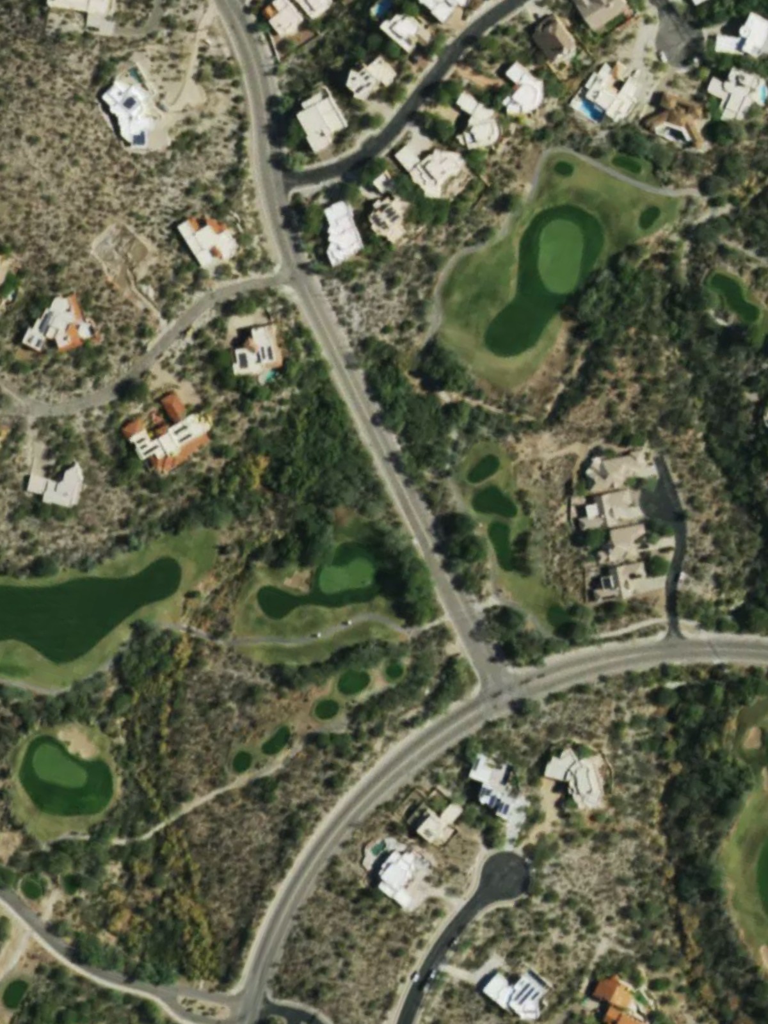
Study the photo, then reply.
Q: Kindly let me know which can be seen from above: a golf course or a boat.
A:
golf course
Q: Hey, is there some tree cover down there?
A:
Yes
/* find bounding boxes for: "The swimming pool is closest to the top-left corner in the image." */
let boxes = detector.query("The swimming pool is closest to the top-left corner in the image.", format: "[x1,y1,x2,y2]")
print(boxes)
[128,66,148,89]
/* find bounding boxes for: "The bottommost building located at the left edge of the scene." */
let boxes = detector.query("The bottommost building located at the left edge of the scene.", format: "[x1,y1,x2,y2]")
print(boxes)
[26,460,83,508]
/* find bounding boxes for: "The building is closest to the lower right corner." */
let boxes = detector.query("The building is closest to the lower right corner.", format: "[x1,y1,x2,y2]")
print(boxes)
[594,976,648,1024]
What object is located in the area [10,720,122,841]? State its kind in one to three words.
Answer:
golf course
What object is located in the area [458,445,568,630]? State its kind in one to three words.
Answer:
golf course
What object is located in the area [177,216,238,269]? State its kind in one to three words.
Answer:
house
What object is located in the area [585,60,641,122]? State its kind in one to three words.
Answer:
house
